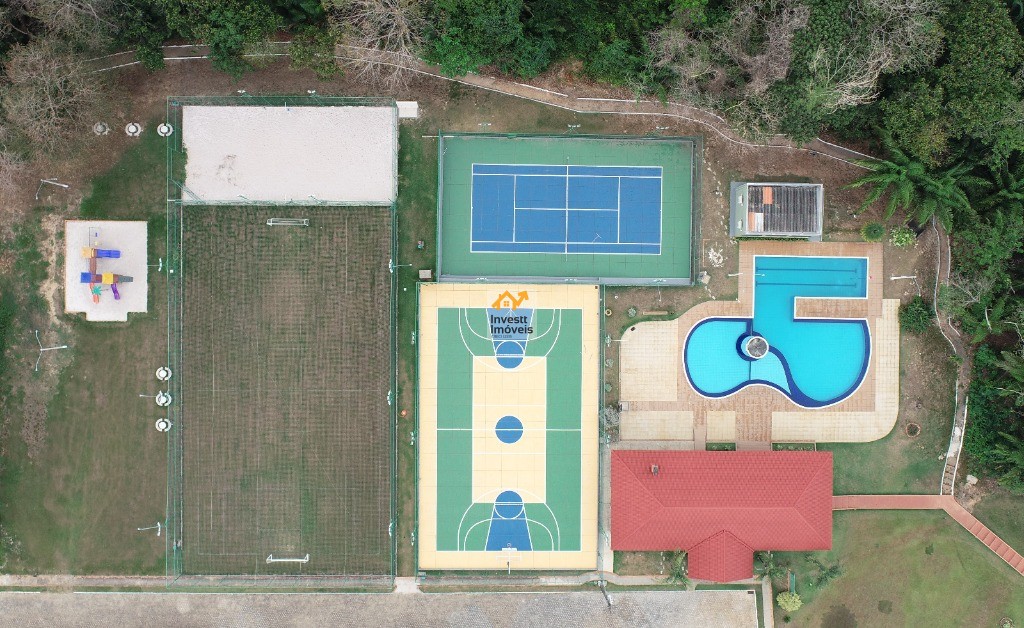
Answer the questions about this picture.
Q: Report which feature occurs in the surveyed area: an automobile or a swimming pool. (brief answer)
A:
swimming pool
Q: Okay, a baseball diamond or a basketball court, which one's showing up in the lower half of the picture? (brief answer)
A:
basketball court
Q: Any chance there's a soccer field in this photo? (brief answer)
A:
Yes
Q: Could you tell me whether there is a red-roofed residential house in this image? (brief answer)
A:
Yes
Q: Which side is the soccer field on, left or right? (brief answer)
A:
left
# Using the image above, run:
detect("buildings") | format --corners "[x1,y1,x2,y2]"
[737,183,823,238]
[397,100,419,120]
[611,450,833,583]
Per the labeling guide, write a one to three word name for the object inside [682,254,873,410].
swimming pool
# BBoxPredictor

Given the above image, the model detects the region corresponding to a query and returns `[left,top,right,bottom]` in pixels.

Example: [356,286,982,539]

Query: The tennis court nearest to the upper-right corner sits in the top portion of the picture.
[439,134,695,286]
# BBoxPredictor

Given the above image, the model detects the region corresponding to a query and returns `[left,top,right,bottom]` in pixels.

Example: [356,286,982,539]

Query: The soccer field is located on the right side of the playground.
[181,204,398,577]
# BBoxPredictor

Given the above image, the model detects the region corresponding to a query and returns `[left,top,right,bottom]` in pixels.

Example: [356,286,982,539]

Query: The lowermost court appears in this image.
[417,284,601,572]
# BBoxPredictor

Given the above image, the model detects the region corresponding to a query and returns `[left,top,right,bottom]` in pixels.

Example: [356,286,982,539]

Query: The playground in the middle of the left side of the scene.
[81,247,133,302]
